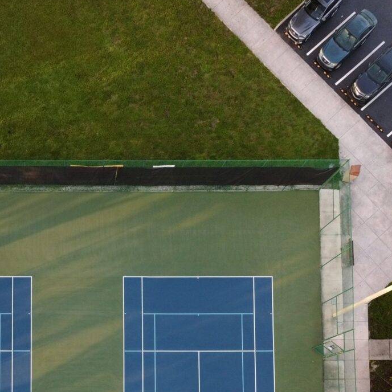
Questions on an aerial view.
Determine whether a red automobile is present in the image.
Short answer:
No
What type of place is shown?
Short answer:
sports ground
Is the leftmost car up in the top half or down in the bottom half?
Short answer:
top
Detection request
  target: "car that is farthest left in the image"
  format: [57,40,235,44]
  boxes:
[286,0,350,46]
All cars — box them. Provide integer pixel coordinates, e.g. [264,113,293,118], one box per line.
[351,51,392,109]
[318,11,383,74]
[286,0,350,46]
